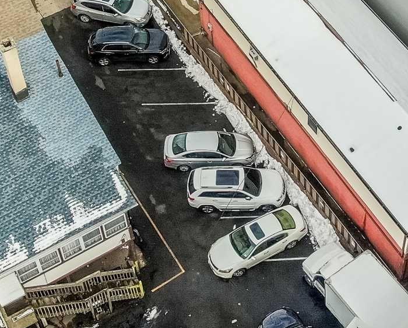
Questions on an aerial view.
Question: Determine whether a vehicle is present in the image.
Yes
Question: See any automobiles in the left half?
Yes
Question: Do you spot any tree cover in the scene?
No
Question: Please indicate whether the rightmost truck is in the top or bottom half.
bottom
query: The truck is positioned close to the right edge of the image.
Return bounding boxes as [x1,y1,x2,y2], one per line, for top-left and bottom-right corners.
[296,245,408,328]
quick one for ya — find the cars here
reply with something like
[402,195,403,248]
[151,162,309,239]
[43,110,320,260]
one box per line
[262,305,315,328]
[160,125,255,172]
[68,0,150,26]
[188,163,286,214]
[86,23,169,65]
[206,204,307,280]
